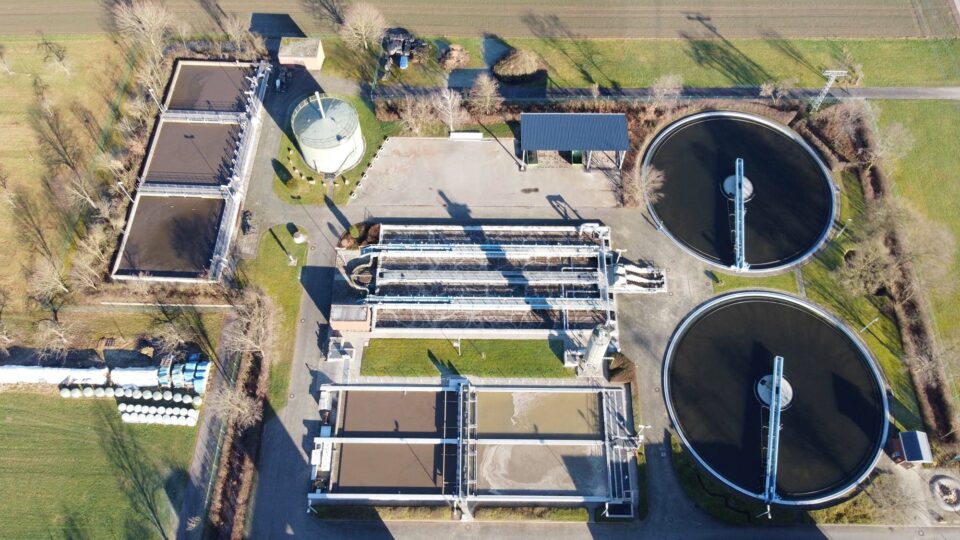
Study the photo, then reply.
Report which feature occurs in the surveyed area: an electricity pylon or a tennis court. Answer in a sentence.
There is an electricity pylon in the scene.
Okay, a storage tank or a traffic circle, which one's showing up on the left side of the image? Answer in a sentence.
Looking on the left side of the image, you will find a storage tank.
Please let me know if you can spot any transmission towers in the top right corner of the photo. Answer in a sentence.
Yes, there is a transmission tower in the top right corner of the photo.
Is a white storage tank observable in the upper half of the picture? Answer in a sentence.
Yes, you'll find a white storage tank in the upper half of the picture.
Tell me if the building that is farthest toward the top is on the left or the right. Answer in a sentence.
The building that is farthest toward the top sits on the left side.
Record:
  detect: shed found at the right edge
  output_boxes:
[891,429,932,465]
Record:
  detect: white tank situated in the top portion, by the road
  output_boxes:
[290,89,368,181]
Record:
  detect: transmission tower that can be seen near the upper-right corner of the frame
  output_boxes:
[802,69,855,124]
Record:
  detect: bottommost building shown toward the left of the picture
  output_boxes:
[328,305,368,331]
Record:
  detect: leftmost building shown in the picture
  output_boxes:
[278,38,324,78]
